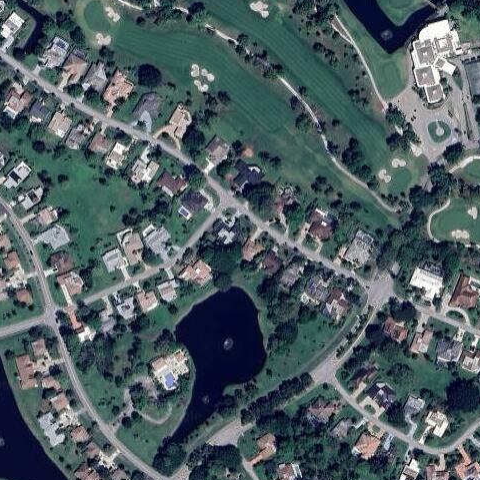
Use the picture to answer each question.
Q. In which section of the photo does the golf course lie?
top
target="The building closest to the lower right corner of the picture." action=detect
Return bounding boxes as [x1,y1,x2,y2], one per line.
[455,459,480,480]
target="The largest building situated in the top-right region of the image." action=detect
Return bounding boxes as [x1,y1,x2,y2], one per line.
[412,20,461,103]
